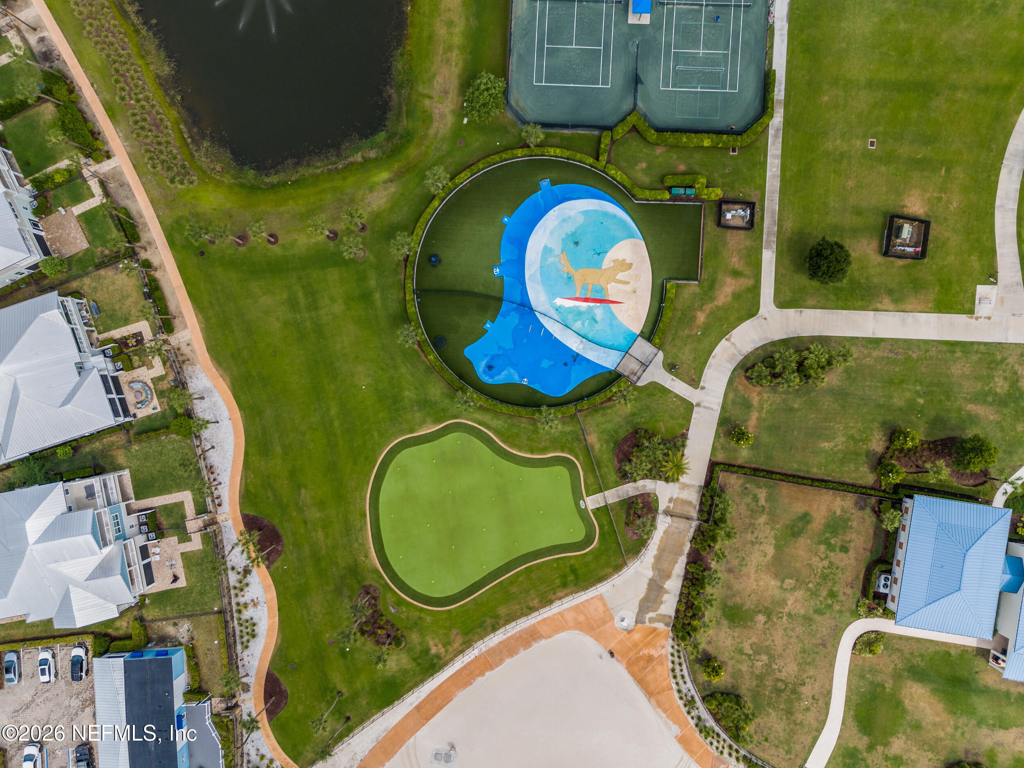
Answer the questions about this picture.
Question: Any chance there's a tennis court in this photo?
Yes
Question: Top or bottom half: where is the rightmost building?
bottom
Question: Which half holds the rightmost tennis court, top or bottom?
top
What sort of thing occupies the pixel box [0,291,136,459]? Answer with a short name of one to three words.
house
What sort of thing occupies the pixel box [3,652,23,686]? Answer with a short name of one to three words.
car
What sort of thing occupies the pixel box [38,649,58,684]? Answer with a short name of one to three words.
car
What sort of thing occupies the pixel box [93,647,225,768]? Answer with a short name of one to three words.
building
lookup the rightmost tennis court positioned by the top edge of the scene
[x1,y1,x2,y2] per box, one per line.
[638,0,768,130]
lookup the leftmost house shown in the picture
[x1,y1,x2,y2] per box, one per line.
[0,155,54,281]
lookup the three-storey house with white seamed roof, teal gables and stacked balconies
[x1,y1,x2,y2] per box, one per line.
[0,471,161,629]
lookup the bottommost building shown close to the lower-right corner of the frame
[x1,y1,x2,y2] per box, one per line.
[972,589,1024,682]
